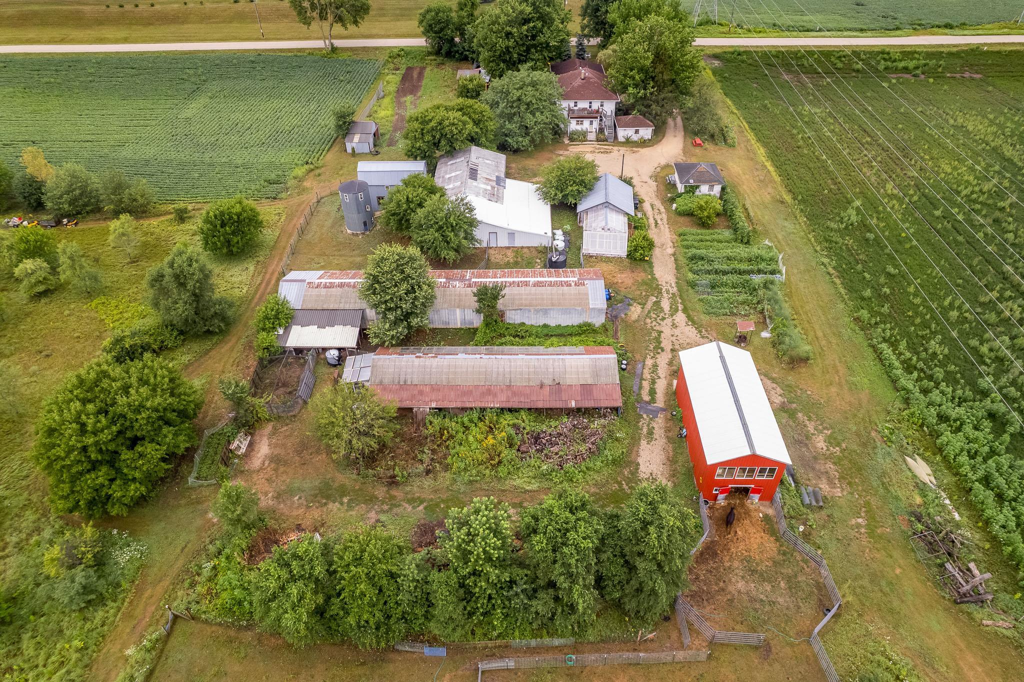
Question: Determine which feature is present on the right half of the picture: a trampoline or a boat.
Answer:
boat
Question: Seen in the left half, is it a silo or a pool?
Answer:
silo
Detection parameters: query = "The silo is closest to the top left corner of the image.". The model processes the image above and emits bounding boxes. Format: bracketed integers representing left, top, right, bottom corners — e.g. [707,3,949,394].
[339,178,377,234]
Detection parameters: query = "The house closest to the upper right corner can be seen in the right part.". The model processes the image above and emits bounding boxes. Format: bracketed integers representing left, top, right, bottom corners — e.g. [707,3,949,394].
[670,161,726,199]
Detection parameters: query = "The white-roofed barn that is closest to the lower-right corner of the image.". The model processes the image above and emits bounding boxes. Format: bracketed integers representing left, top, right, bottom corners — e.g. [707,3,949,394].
[675,340,790,506]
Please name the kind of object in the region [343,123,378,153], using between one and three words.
shed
